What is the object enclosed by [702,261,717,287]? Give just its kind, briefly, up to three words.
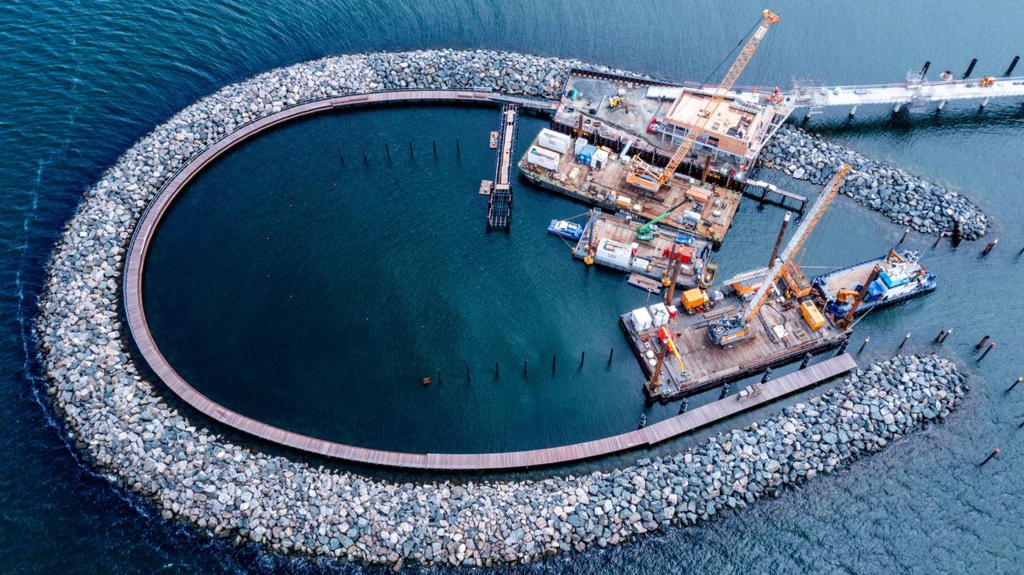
boat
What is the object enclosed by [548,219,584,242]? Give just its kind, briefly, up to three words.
boat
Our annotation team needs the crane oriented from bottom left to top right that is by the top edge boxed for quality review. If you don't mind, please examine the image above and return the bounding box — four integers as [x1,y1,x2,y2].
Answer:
[626,7,780,201]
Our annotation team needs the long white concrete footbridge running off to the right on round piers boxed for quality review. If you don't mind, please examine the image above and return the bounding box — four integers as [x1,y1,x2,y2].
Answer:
[797,71,1024,120]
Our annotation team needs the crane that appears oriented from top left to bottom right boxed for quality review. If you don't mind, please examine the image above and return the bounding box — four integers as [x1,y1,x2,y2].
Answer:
[652,322,686,377]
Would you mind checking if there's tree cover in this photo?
No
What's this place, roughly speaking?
port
